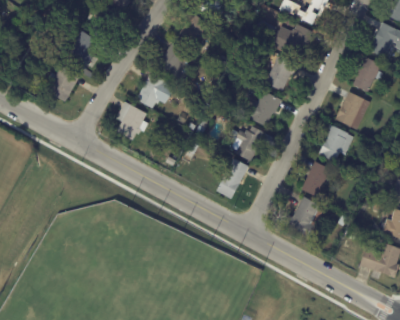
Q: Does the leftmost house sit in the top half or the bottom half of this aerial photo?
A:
top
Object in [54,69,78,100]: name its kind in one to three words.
house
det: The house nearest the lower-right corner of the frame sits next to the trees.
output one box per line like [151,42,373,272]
[361,245,400,279]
